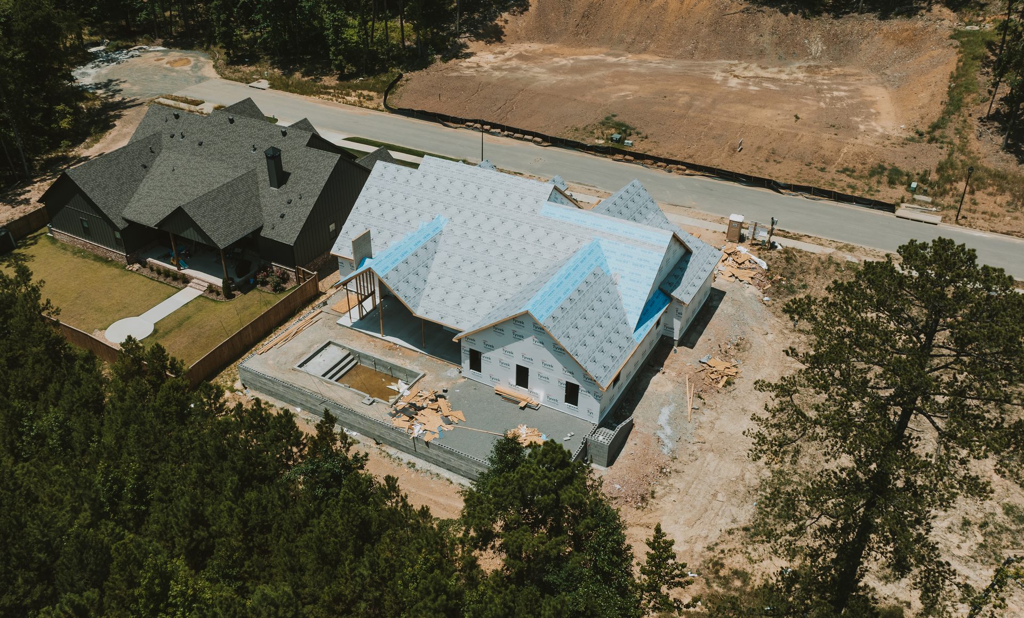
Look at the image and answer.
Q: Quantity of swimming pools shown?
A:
1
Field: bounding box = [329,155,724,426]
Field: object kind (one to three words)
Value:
house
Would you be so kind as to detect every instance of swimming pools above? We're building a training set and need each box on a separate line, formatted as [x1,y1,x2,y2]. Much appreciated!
[293,339,424,406]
